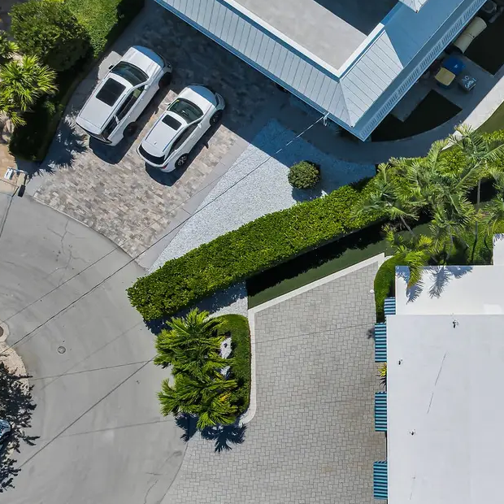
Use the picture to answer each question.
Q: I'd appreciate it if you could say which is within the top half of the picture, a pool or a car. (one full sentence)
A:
What appears within the top half of the picture is a car.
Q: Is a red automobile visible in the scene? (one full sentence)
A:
No, no red automobile is visible in the view.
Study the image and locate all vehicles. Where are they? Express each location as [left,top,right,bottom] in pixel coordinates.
[0,420,9,449]
[139,83,225,178]
[81,43,174,150]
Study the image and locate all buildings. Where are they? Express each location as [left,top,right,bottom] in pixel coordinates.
[147,0,488,142]
[374,233,504,504]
